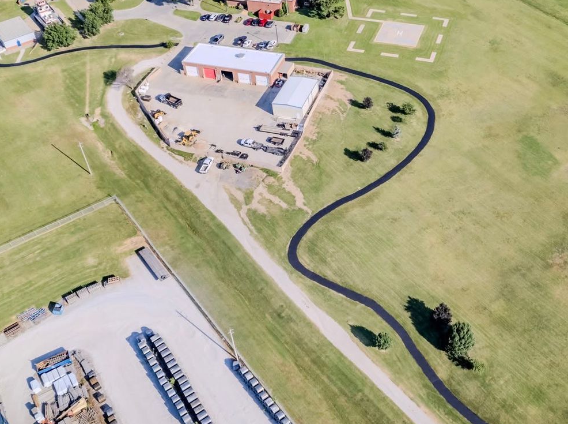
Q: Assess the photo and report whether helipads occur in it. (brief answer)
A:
Yes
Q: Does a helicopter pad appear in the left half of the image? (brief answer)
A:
No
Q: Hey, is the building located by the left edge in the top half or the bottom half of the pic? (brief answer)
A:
top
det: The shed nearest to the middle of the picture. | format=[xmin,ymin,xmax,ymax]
[272,76,319,122]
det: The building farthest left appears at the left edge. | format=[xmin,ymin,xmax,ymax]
[0,18,38,53]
